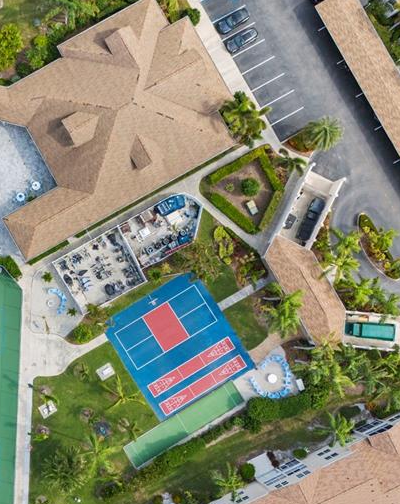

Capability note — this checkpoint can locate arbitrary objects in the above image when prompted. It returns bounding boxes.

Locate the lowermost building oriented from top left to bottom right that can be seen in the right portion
[263,234,349,347]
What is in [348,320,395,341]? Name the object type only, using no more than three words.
truck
